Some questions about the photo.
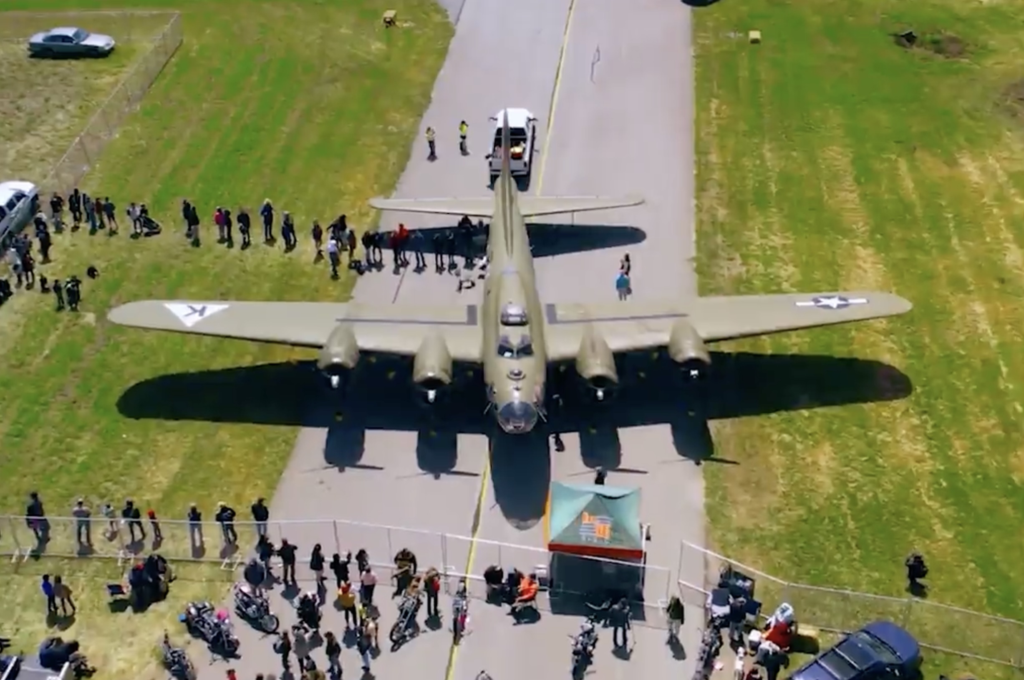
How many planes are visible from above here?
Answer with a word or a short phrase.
1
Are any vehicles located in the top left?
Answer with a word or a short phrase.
Yes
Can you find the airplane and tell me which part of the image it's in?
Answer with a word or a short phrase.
center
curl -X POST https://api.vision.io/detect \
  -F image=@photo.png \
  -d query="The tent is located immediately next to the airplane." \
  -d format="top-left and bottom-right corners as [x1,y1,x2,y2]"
[537,482,650,604]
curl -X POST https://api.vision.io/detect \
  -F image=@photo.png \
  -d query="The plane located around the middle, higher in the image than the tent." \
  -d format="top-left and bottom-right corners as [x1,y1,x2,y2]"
[110,109,910,443]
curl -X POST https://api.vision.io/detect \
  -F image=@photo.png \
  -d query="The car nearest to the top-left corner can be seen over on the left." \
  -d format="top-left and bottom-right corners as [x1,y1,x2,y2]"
[26,24,114,56]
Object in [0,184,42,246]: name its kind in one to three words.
van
